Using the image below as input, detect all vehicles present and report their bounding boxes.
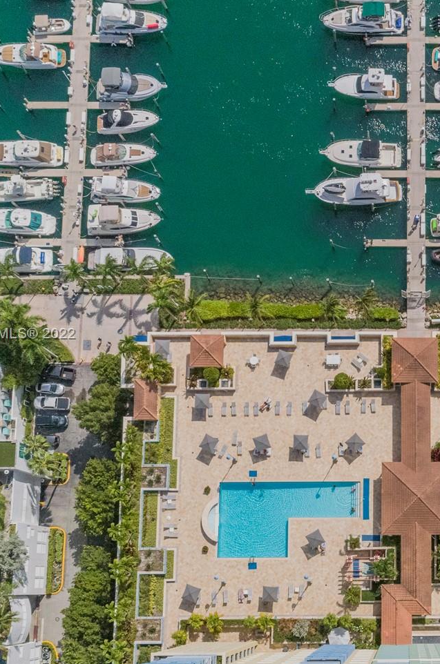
[36,396,70,410]
[39,382,69,396]
[37,433,67,447]
[45,367,77,382]
[37,416,68,430]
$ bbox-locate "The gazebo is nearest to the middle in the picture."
[189,334,225,368]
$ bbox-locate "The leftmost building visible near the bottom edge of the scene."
[8,472,57,664]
